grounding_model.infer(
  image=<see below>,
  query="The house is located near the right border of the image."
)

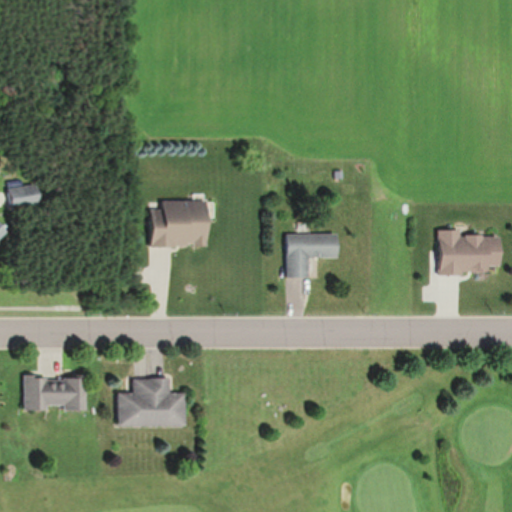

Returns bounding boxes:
[436,230,504,276]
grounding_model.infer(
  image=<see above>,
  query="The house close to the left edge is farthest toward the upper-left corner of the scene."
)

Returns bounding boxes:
[5,180,42,206]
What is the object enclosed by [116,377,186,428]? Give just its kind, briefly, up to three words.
house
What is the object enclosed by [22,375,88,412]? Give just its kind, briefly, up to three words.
house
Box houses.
[0,216,10,242]
[116,377,186,428]
[436,230,504,276]
[5,180,42,206]
[148,200,211,248]
[22,375,88,412]
[284,234,341,278]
